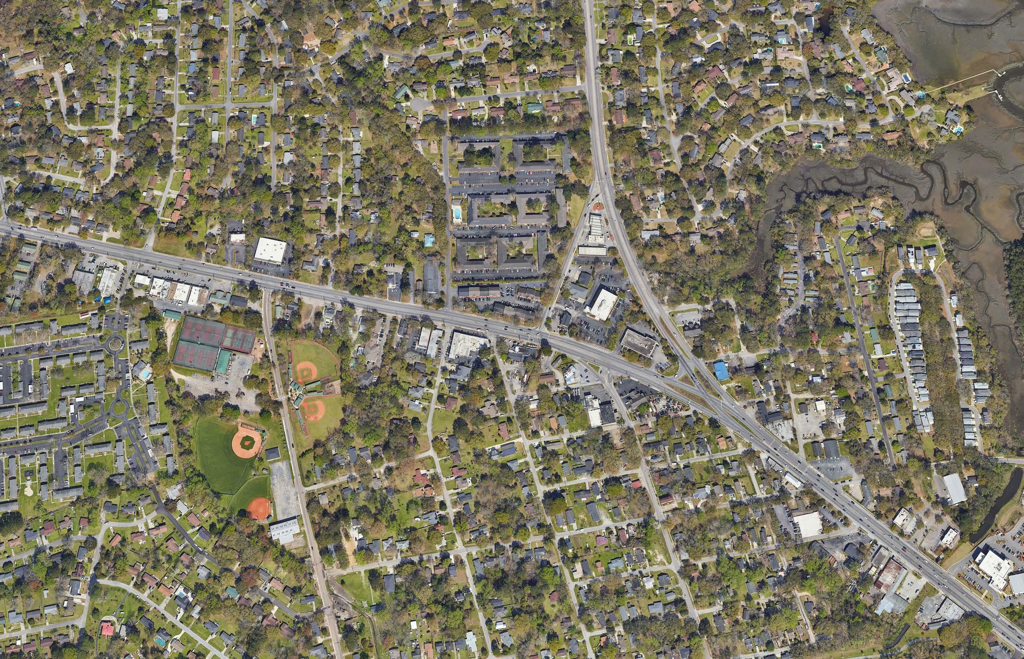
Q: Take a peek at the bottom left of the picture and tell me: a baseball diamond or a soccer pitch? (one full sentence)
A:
What appears at the bottom left of the picture is a baseball diamond.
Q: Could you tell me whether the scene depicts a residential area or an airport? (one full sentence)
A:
The picture captures a residential area.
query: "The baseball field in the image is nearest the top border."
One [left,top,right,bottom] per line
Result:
[290,340,341,386]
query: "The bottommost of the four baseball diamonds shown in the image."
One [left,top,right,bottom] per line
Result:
[226,476,272,521]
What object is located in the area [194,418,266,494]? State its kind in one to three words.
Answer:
baseball field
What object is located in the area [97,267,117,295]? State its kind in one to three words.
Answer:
building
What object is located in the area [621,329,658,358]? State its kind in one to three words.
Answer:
building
